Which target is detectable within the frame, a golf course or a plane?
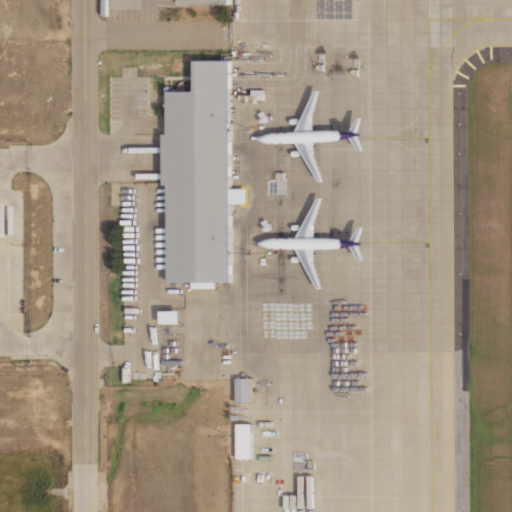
plane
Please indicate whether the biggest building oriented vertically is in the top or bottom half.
top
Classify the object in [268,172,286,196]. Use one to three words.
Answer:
work vehicle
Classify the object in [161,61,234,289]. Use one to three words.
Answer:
building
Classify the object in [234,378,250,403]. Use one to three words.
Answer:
shed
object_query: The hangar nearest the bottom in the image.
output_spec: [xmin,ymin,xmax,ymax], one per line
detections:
[235,424,252,460]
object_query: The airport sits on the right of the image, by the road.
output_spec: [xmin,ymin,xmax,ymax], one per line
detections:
[232,0,512,512]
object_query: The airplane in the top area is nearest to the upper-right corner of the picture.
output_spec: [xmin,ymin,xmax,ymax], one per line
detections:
[257,90,362,181]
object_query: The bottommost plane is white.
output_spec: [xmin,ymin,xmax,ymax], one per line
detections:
[257,199,362,289]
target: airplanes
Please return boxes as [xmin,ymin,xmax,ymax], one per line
[257,199,362,289]
[257,90,362,181]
